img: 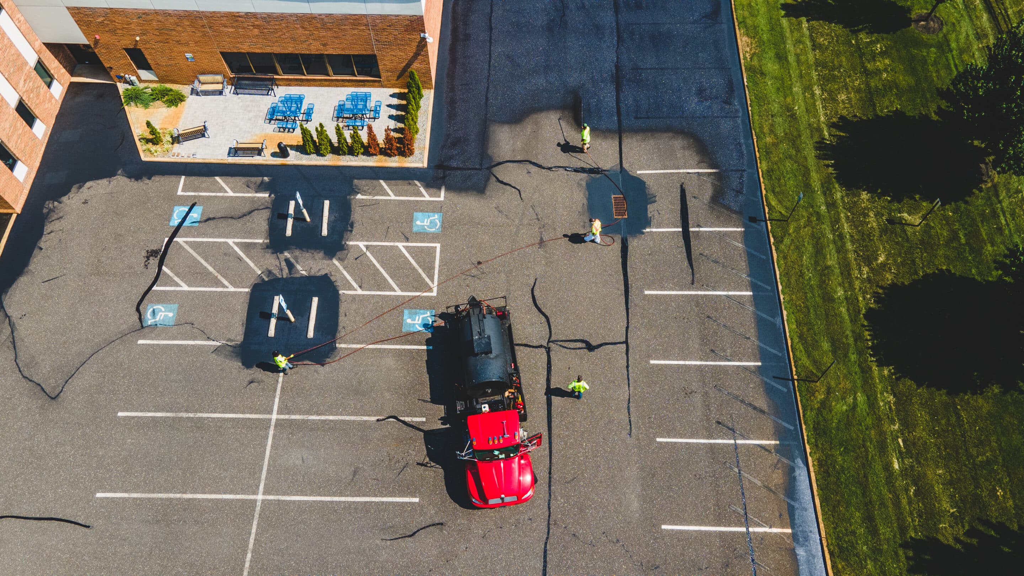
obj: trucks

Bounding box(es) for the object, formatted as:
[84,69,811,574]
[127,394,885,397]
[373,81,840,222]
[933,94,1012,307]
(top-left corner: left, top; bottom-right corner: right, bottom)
[445,296,545,509]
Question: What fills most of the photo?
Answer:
paved ground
